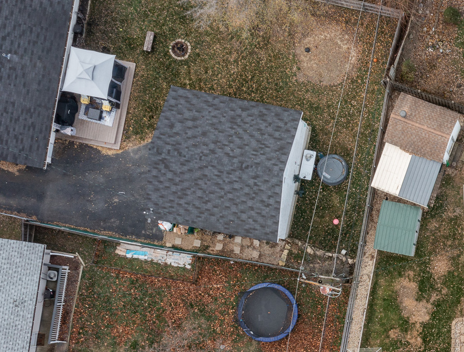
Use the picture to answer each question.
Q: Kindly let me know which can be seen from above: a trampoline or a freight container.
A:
trampoline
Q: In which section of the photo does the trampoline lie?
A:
bottom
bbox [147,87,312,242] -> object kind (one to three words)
building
